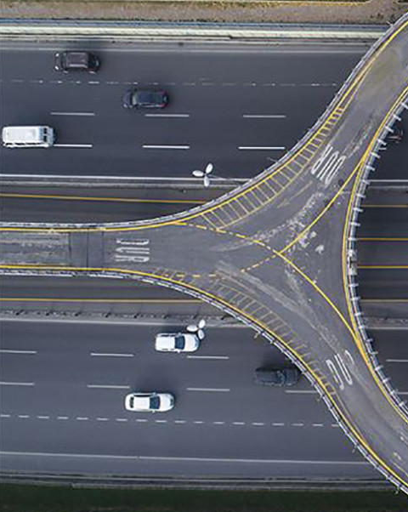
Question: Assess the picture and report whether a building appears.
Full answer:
No, I can see no building in this picture.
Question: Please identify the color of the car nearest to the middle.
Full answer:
In this view, the car nearest to the middle is white.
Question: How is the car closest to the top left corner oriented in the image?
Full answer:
The car closest to the top left corner is oriented from left to right.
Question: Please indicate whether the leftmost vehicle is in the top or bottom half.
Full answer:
The top half of the photo is where the leftmost vehicle is.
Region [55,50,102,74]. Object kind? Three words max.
car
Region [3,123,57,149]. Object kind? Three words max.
vehicle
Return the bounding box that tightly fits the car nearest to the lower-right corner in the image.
[254,364,302,389]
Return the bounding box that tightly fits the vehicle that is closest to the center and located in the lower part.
[153,331,201,355]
